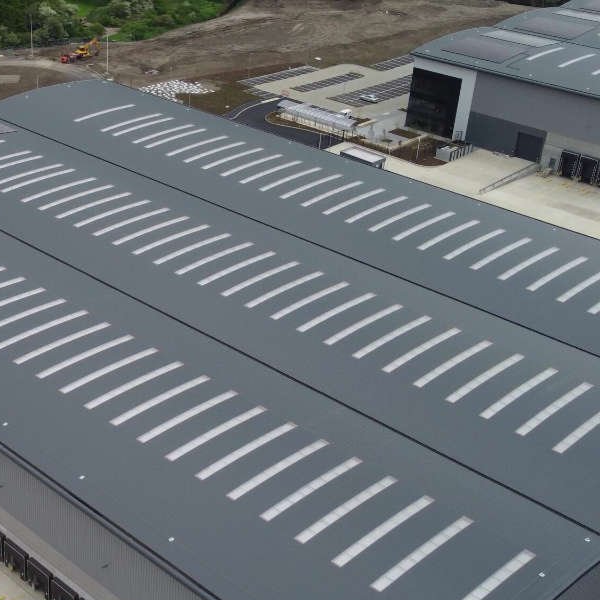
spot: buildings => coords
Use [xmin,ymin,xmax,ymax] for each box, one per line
[403,0,600,187]
[0,77,600,600]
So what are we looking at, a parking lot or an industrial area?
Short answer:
industrial area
